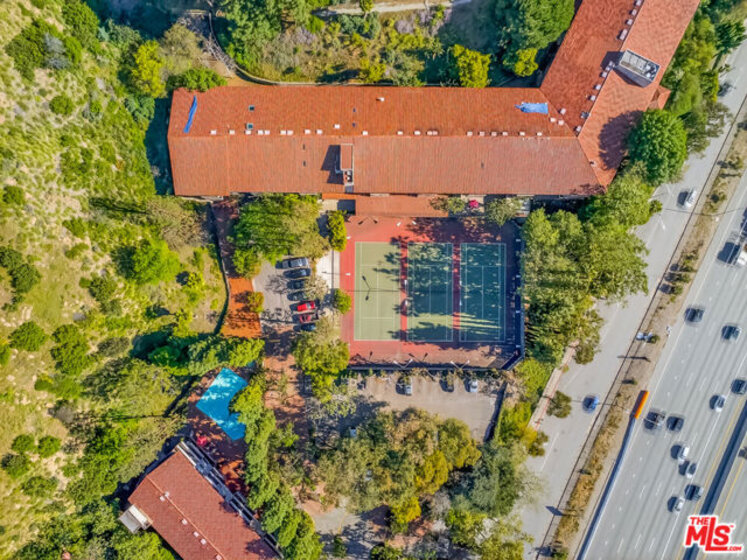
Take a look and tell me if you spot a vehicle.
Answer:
Yes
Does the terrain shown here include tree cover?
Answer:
Yes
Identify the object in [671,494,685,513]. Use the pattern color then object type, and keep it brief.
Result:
white vehicle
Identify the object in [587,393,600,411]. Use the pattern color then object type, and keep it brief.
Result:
blue vehicle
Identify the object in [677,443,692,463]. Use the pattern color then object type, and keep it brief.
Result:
white car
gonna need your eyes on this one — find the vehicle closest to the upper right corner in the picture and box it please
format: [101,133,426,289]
[721,78,736,98]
